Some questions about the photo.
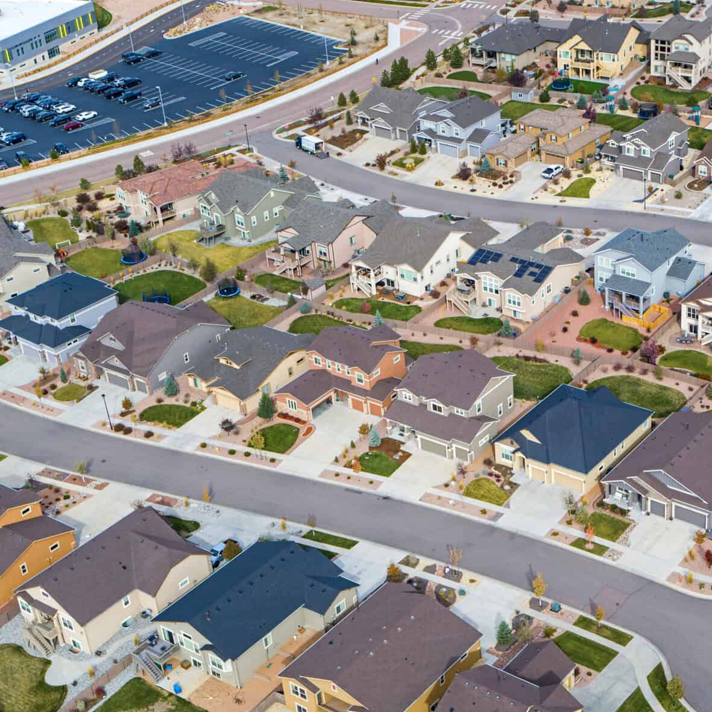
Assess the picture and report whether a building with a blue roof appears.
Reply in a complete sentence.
Yes, this view includes a building with a blue roof.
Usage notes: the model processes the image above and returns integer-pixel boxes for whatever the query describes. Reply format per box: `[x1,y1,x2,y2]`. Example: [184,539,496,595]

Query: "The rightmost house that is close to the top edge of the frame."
[650,16,712,88]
